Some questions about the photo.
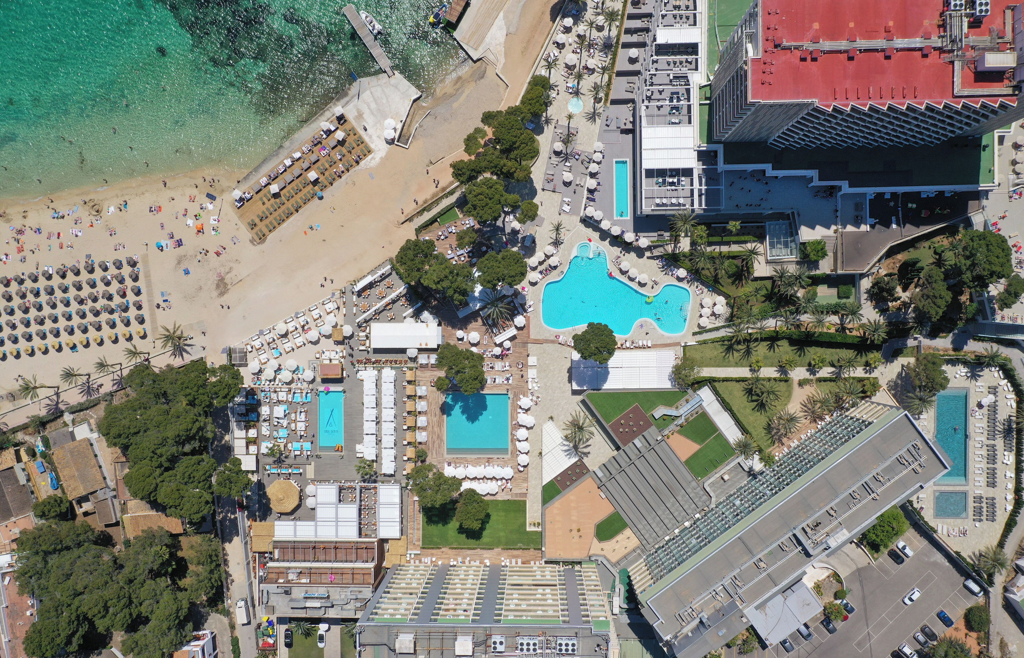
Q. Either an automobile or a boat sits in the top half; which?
boat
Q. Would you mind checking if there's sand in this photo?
Yes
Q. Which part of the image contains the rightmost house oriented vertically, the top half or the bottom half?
bottom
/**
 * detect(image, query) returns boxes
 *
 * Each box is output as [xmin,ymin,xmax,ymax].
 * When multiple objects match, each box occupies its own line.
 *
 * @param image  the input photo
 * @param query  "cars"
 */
[820,617,838,635]
[888,646,904,658]
[919,624,936,641]
[964,578,983,598]
[839,600,856,615]
[896,540,914,558]
[283,629,293,648]
[887,548,904,565]
[912,631,929,648]
[936,610,954,628]
[837,612,851,625]
[796,625,814,642]
[317,630,326,648]
[898,642,917,658]
[780,637,795,654]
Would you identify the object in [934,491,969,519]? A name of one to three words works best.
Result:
swimming pool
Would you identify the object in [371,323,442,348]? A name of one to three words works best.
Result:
tent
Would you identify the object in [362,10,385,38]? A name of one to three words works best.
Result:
boat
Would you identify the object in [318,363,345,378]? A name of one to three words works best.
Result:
shed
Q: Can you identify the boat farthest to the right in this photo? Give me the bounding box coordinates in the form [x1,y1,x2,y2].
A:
[429,3,449,30]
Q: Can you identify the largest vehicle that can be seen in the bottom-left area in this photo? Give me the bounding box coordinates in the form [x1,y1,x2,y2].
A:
[235,598,249,629]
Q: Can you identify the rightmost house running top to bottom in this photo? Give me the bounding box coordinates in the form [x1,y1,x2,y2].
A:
[989,552,1024,625]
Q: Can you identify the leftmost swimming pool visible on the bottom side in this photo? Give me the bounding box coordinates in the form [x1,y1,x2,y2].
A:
[317,390,345,455]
